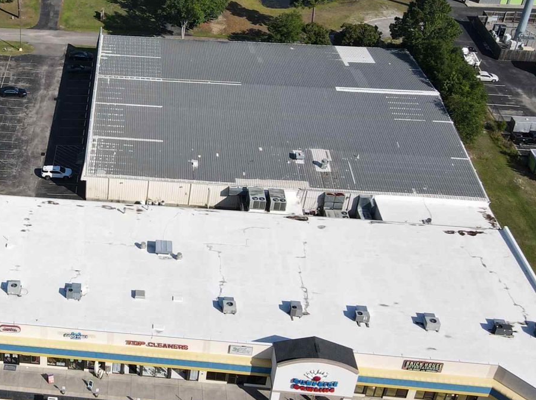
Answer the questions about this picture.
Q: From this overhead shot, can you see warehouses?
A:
Yes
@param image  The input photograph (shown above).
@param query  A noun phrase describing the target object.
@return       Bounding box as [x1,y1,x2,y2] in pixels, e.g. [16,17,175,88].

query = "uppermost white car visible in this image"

[482,72,502,84]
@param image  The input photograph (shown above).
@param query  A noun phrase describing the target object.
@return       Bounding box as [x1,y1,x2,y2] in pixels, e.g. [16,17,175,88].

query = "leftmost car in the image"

[0,85,25,97]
